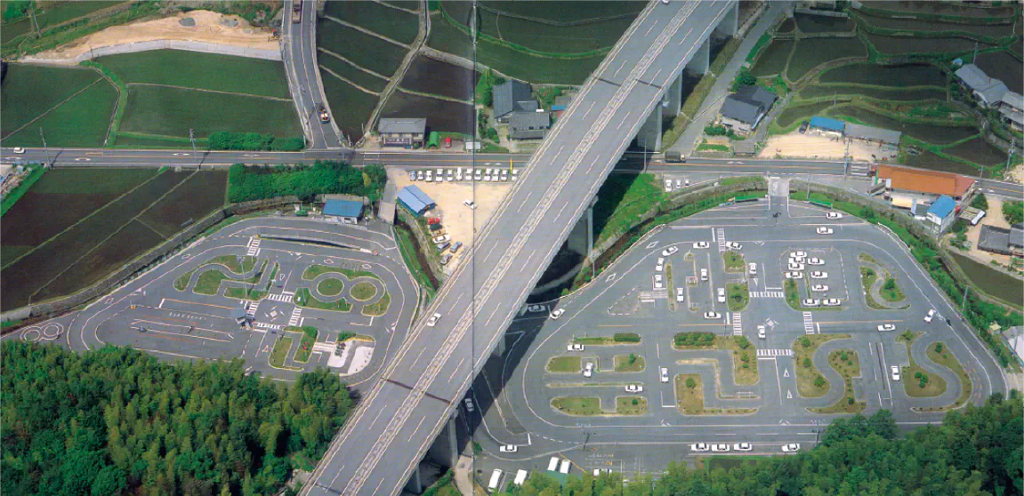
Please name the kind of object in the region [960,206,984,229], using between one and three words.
shed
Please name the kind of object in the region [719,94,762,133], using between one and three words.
house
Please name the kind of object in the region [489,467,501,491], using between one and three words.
vehicle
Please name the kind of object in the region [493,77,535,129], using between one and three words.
house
